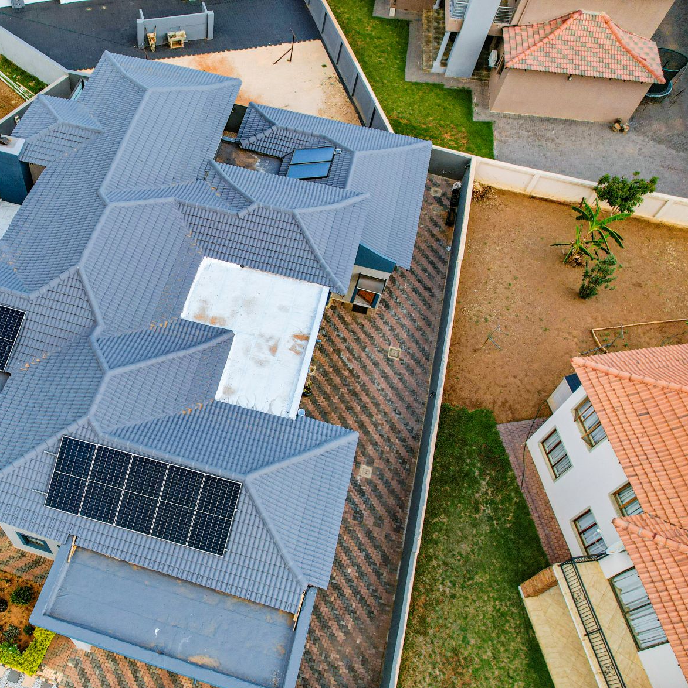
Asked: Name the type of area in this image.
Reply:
residential area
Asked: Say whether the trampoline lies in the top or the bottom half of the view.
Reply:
top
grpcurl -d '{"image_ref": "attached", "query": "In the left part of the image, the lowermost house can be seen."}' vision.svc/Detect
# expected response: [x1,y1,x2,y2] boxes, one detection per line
[0,48,436,688]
